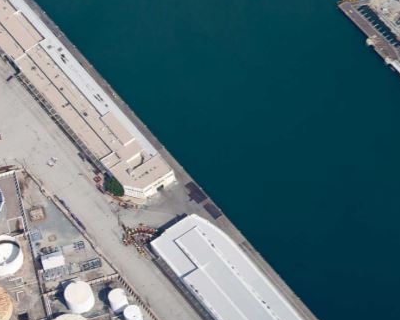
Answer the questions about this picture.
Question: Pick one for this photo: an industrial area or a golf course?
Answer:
industrial area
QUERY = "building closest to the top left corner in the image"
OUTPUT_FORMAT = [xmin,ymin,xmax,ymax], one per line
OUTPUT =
[0,0,175,200]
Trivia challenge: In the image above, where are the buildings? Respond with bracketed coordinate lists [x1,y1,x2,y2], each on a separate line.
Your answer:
[0,0,175,200]
[41,252,67,273]
[148,215,302,320]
